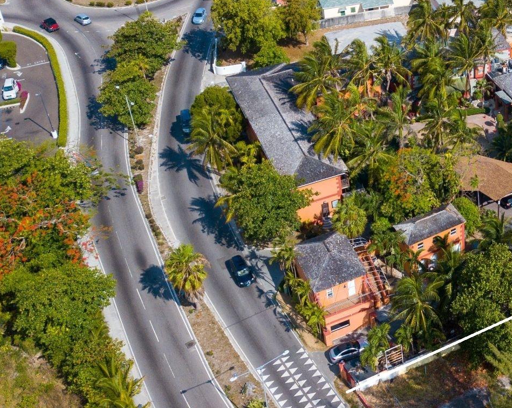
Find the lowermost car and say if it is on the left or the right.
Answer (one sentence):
The lowermost car sits on the right side.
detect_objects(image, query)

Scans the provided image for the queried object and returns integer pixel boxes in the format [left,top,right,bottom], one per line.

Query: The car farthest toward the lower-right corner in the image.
[328,340,369,365]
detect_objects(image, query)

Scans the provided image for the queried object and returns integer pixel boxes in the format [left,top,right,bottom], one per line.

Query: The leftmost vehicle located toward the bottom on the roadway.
[227,255,253,285]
